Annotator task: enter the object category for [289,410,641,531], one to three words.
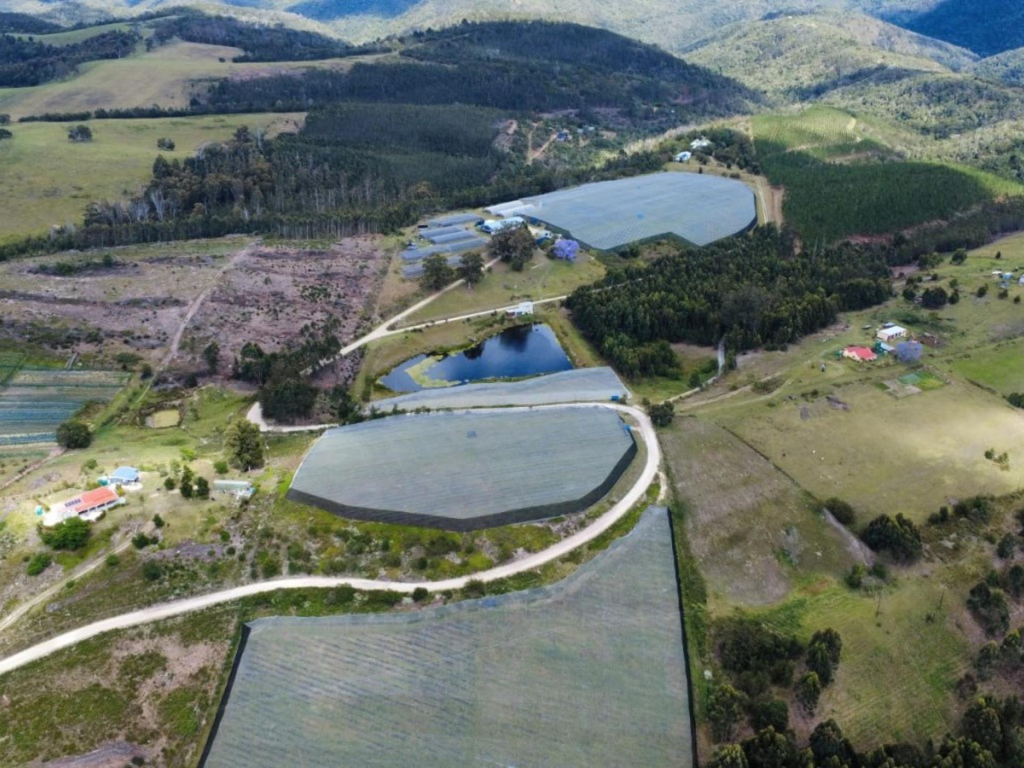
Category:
house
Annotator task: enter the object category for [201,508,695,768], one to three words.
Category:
house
